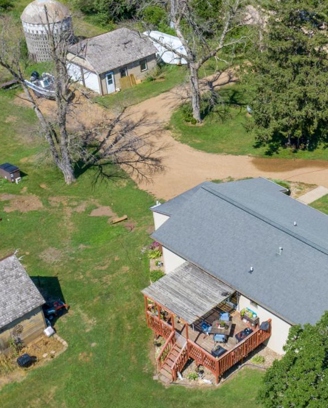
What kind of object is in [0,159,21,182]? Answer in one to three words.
shed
